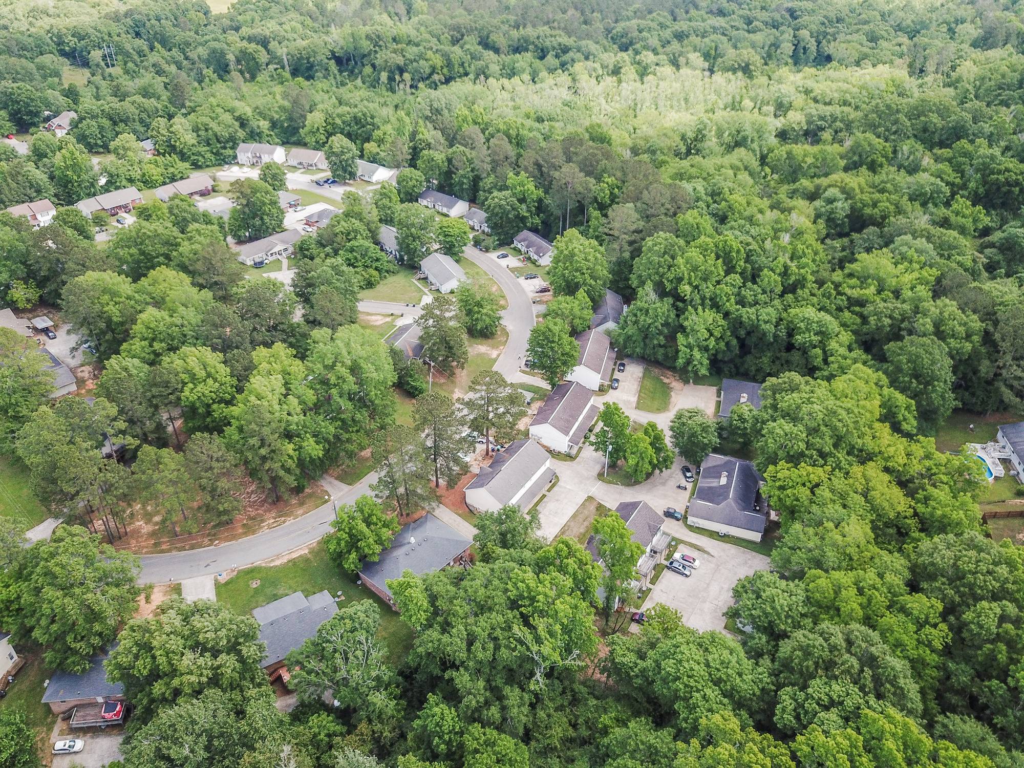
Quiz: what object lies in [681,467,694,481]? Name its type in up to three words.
vehicle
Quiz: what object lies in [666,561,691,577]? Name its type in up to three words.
car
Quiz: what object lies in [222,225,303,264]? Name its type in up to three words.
house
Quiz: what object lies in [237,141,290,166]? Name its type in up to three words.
house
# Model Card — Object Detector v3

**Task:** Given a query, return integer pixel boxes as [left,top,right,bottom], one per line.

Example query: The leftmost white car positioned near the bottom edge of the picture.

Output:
[52,738,84,755]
